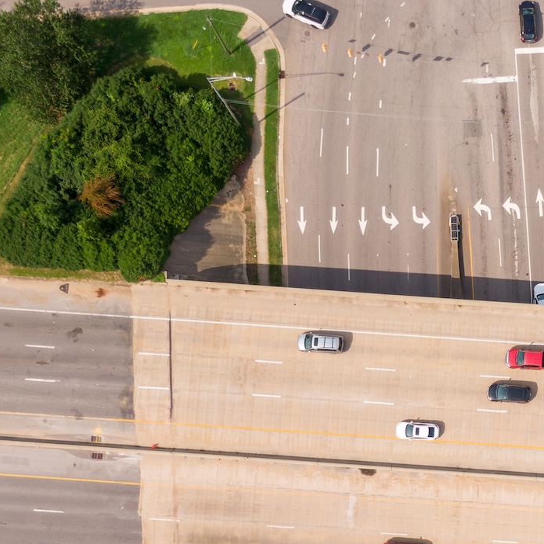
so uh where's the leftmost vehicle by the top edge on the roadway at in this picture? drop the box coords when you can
[286,0,330,27]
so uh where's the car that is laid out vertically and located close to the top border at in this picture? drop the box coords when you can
[518,0,537,43]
